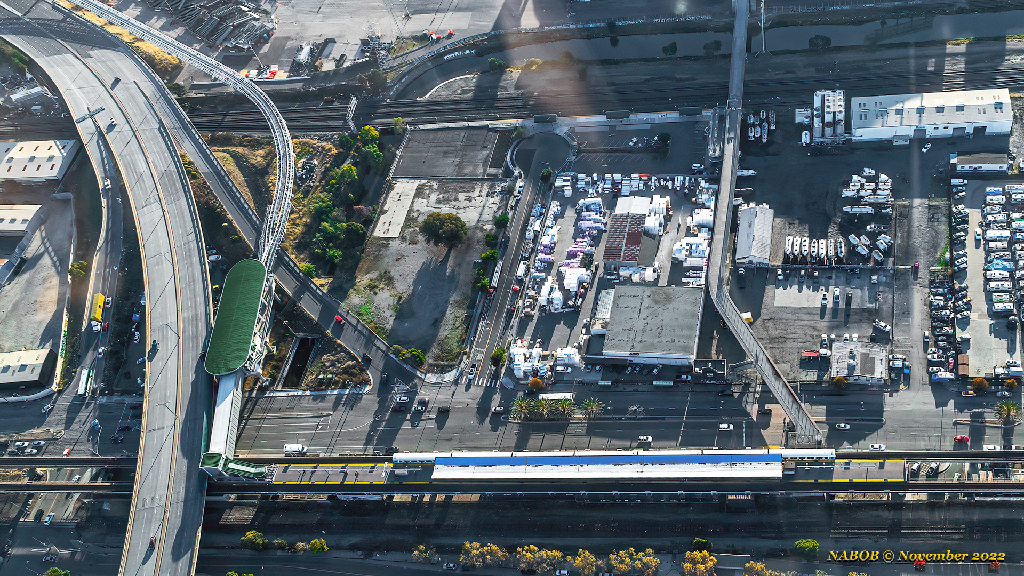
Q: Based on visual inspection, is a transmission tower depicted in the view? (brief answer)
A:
Yes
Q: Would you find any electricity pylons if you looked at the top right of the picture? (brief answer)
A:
No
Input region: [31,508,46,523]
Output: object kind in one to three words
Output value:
vehicle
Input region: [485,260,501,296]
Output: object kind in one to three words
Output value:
vehicle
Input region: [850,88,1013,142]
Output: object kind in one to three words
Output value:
building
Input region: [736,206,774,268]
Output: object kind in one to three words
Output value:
shed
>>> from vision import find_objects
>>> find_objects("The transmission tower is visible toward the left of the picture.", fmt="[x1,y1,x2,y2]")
[352,9,392,73]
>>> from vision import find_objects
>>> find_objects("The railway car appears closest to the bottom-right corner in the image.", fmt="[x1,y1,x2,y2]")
[769,449,836,461]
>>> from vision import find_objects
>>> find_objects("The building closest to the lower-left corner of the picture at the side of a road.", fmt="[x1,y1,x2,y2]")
[0,349,57,389]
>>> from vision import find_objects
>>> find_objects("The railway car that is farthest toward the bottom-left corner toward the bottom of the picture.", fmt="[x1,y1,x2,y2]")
[390,451,449,463]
